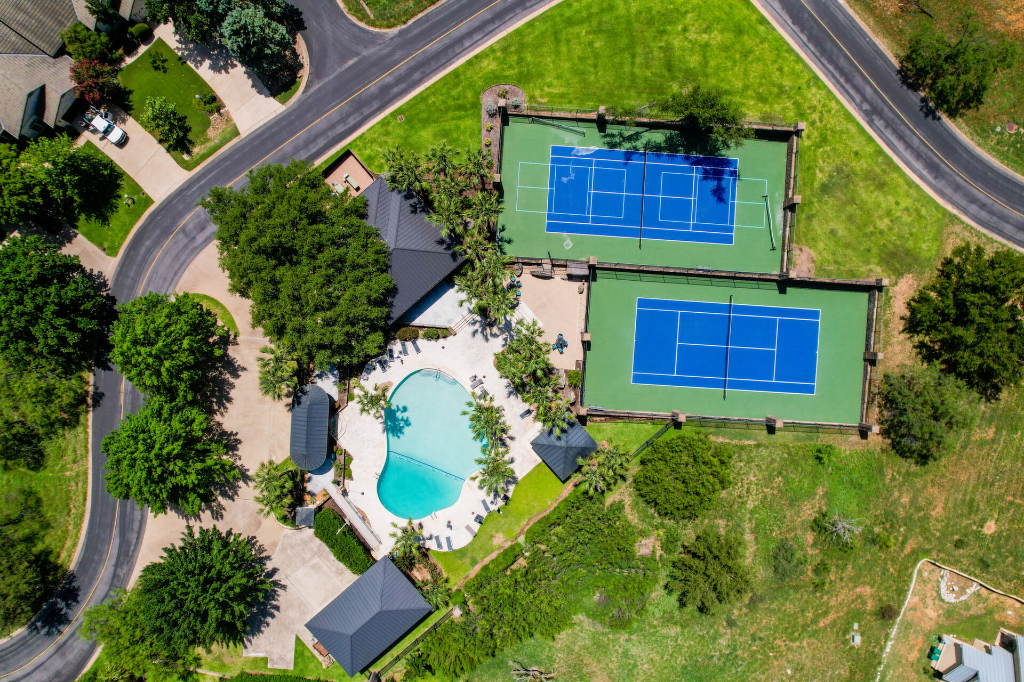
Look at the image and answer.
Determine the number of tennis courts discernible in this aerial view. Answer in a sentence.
My tally gives 2 tennis courts in this view.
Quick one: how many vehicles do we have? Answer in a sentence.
The picture shows 1 vehicle.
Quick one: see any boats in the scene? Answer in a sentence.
No, no boat is visible in the scene.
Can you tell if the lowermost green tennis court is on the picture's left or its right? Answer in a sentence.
It is on the right.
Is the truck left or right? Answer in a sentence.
The truck appears in the left half of the scene.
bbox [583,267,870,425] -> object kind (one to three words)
tennis court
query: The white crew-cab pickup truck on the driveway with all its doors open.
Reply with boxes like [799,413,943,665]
[79,106,129,146]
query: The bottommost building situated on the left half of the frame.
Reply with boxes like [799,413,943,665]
[305,555,433,678]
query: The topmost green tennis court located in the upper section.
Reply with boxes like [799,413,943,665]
[498,114,788,275]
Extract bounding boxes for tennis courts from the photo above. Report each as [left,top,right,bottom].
[583,267,870,425]
[498,114,788,275]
